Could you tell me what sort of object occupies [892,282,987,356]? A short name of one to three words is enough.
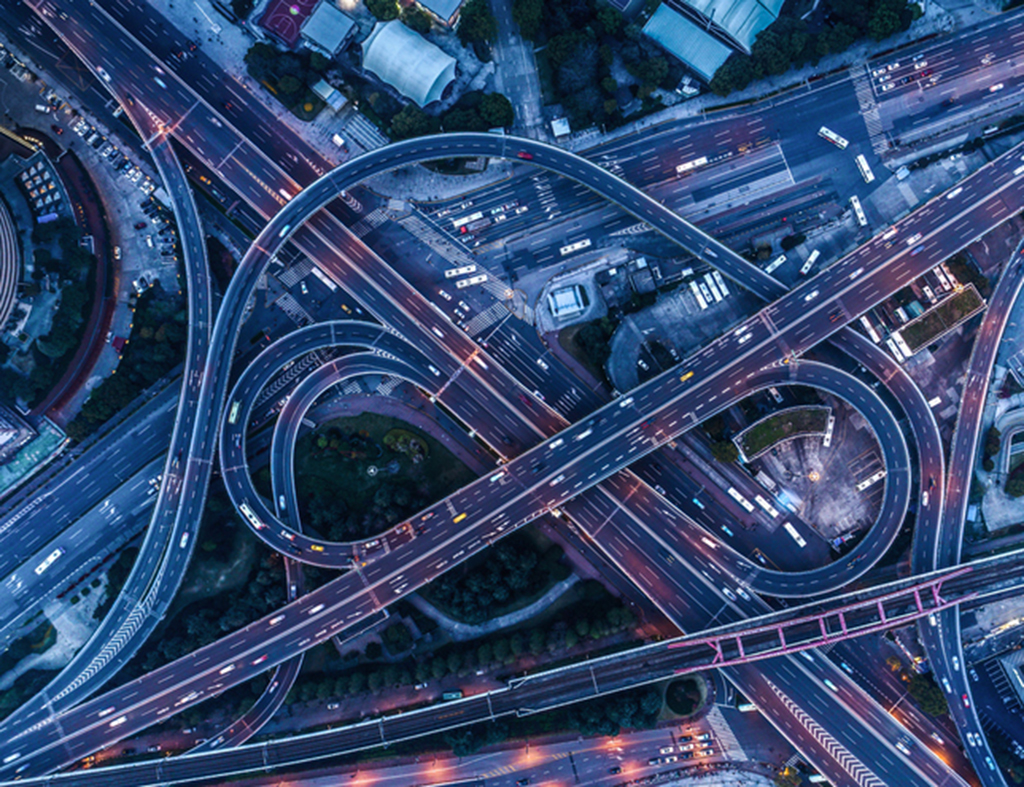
building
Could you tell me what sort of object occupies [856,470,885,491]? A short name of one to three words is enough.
bus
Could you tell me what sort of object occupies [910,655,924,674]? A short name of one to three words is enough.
vehicle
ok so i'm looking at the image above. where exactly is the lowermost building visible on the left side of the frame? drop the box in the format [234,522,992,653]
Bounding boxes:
[334,604,390,643]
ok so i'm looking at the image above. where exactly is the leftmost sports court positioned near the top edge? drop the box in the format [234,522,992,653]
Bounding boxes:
[258,0,324,44]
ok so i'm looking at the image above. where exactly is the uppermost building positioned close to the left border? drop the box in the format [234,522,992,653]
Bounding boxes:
[0,150,81,227]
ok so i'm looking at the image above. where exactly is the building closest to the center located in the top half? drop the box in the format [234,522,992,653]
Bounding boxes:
[549,286,586,317]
